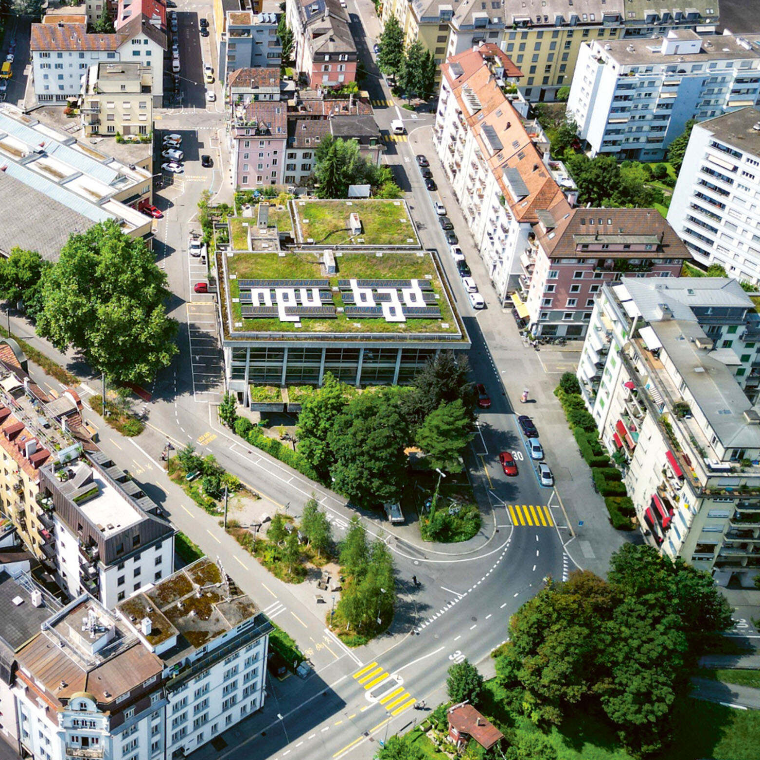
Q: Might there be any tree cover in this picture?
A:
Yes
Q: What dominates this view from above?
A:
buildings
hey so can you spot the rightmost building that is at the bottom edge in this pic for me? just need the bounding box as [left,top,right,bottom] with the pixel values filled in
[447,700,504,758]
